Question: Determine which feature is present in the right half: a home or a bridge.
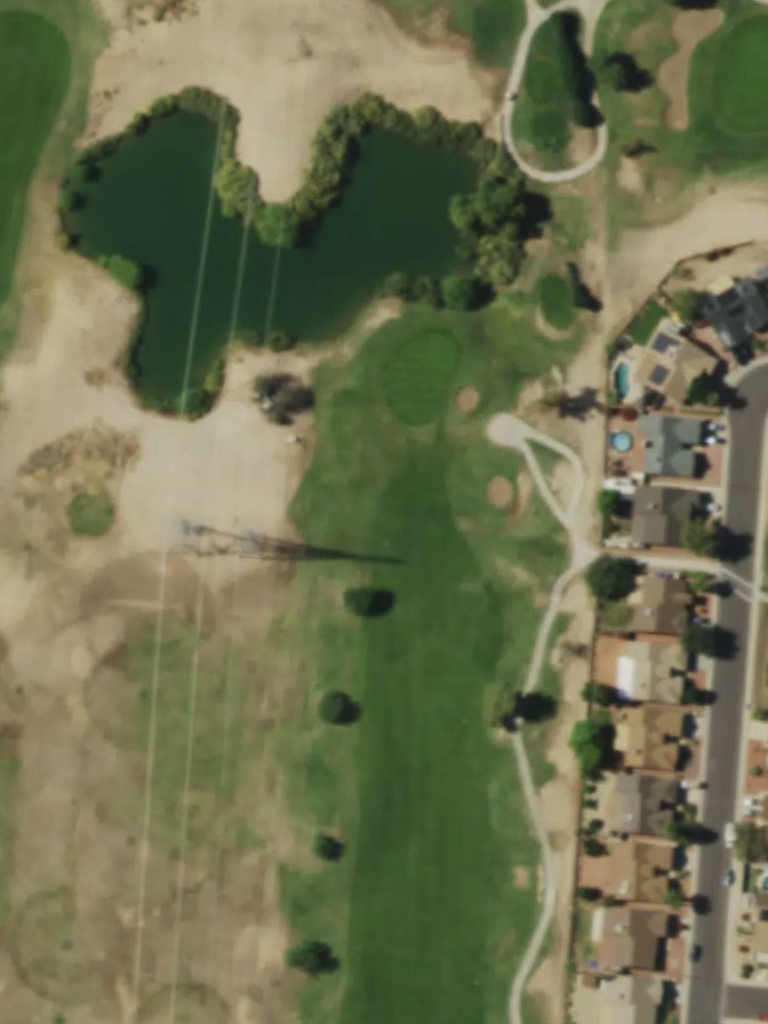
home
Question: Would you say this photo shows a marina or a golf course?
golf course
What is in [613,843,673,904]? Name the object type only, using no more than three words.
house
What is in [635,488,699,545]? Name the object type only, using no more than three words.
house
